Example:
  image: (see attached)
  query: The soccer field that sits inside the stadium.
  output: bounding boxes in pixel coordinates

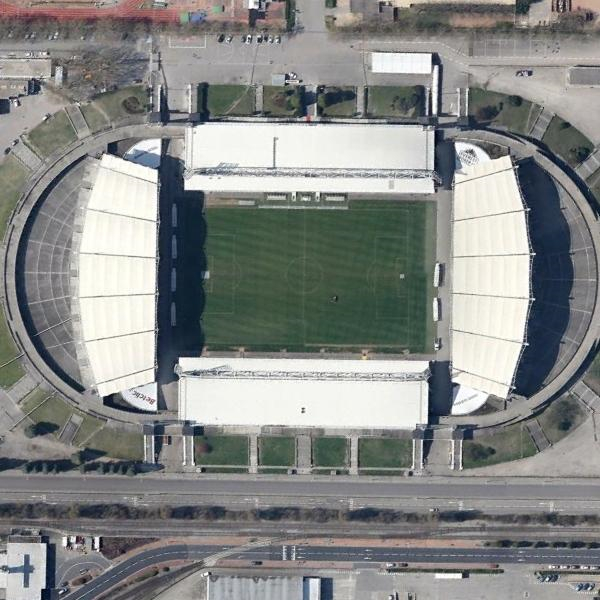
[182,193,437,357]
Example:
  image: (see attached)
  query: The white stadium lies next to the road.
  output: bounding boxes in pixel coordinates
[2,84,600,469]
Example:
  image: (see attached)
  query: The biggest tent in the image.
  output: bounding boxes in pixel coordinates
[372,52,433,74]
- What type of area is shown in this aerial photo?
sports ground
